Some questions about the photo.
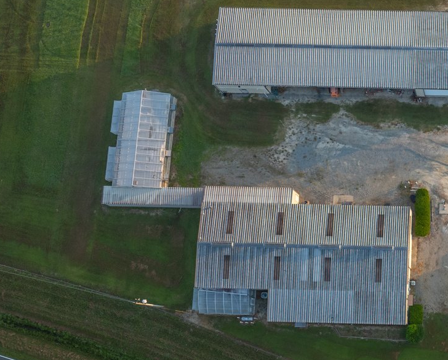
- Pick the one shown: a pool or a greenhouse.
greenhouse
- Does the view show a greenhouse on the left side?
Yes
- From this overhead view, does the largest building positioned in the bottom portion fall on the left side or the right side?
right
